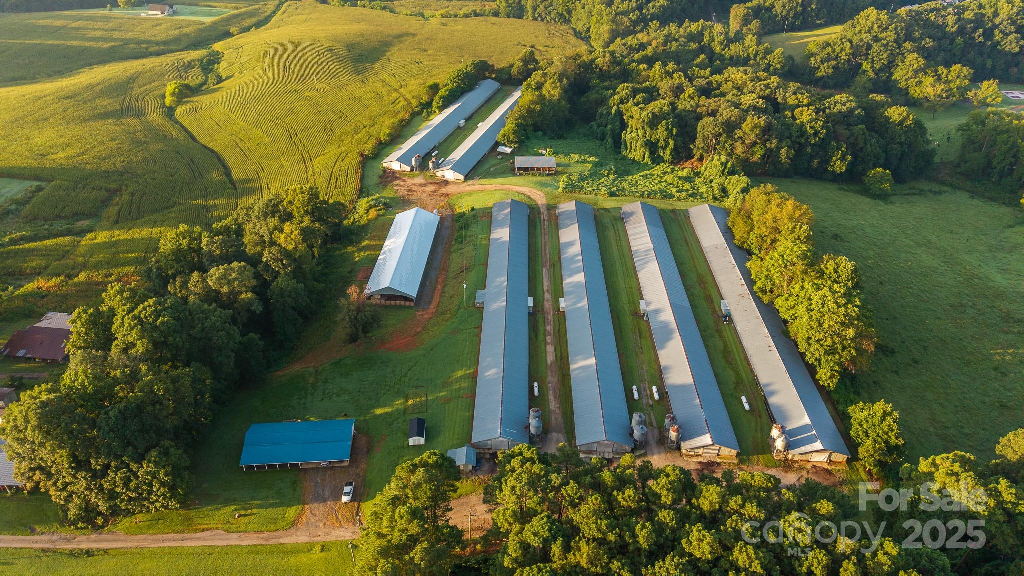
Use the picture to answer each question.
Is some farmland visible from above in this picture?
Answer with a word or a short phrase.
Yes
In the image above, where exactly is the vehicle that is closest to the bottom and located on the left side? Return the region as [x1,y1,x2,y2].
[339,480,356,503]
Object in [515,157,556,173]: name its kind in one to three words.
shed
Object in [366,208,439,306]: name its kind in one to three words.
barn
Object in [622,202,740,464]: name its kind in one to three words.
house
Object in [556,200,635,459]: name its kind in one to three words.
house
